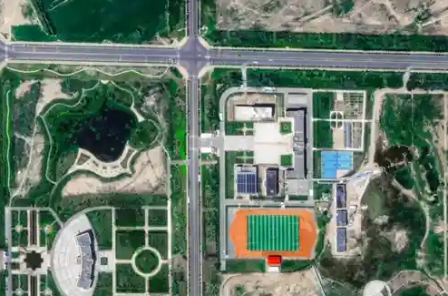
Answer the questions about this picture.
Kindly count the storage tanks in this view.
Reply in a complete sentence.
There are no storage tanks in this view.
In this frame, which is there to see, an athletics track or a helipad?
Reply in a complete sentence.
Of the two, only an athletics track appears.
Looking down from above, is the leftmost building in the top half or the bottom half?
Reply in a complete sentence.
The leftmost building is in the bottom half of the image.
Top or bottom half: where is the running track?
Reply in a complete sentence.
Seen from above, the running track lies in the bottom half of the view.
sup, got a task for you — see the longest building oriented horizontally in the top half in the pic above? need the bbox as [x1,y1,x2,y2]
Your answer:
[235,106,272,120]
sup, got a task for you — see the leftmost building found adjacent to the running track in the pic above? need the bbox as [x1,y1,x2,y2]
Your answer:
[236,165,257,195]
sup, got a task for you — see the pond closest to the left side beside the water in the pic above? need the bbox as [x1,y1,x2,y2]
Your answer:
[79,106,133,162]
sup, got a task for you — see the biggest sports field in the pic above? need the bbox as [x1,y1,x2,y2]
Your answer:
[248,216,298,251]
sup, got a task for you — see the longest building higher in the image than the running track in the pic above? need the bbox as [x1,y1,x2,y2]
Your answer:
[288,108,304,178]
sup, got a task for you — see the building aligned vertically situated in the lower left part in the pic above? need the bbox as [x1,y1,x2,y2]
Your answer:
[72,232,97,289]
